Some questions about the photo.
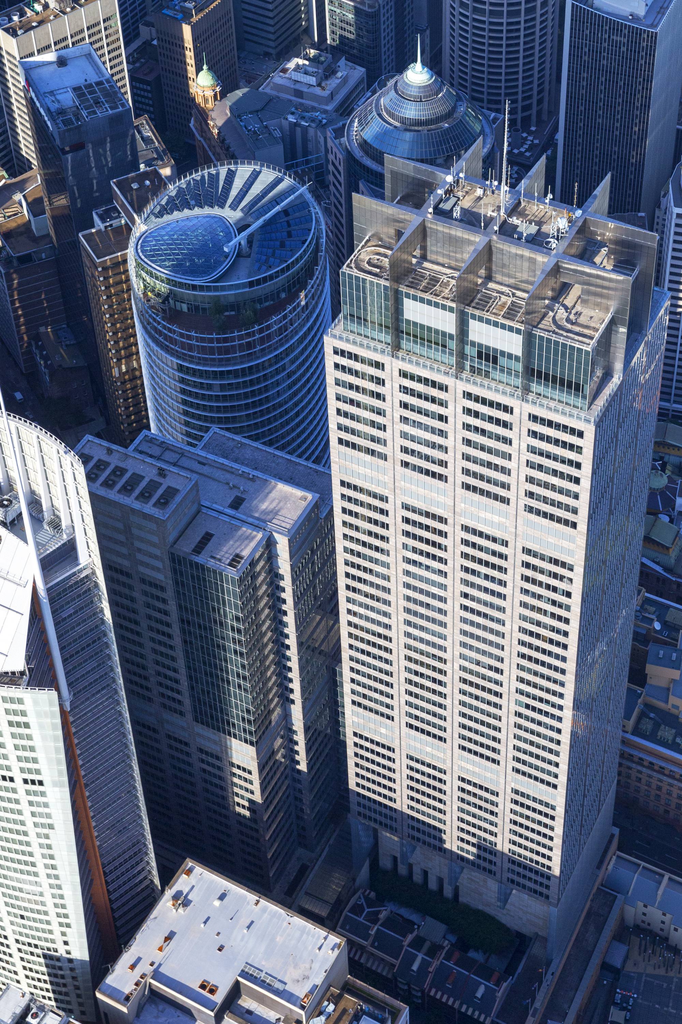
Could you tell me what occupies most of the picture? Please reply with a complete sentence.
Most of the picture is covered by buildings.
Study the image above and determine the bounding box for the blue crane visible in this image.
[218,176,316,261]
